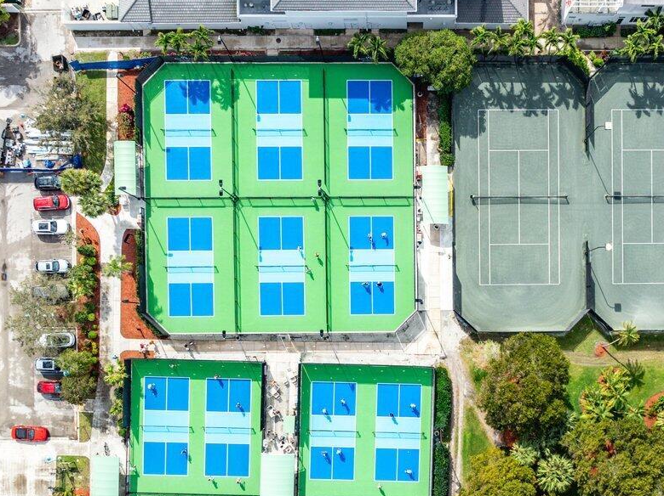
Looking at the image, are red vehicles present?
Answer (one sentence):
Yes, a red vehicle is visible in the scene.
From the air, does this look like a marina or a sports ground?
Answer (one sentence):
This looks like a sports ground.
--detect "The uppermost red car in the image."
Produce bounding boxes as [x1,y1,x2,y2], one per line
[34,194,71,211]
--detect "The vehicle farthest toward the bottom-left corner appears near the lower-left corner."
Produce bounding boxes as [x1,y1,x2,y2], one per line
[12,425,51,442]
